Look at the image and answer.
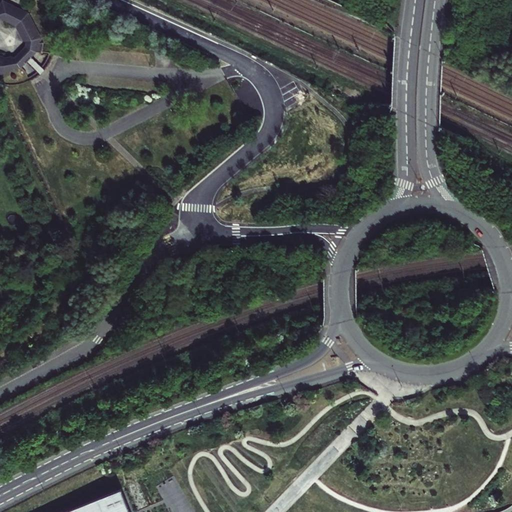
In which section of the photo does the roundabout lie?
right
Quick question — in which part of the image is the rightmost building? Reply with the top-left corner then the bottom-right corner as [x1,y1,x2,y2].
[157,476,196,512]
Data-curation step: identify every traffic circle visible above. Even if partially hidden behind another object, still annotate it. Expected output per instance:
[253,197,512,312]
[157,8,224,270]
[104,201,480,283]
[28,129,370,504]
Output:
[328,194,512,384]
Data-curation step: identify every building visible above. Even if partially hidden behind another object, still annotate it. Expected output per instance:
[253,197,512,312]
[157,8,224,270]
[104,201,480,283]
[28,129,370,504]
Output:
[74,492,128,512]
[157,476,196,512]
[0,0,44,74]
